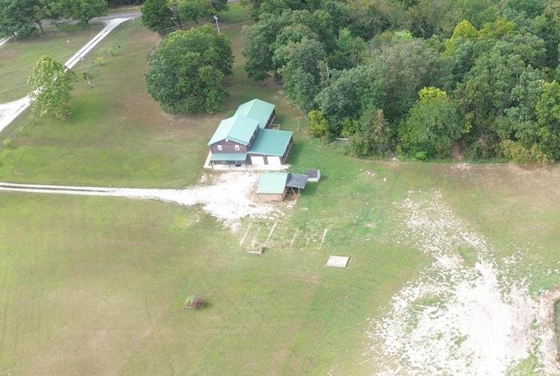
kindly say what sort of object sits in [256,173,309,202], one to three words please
shed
